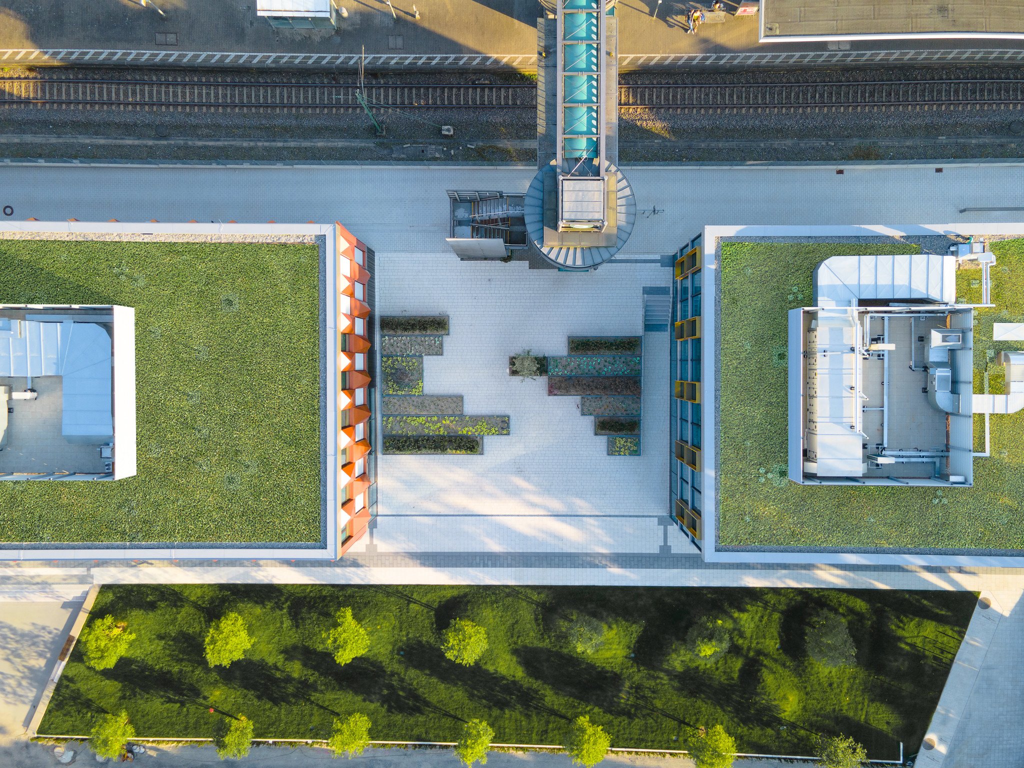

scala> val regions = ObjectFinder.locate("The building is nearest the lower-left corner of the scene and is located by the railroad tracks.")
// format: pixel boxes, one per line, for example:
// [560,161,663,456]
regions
[0,220,378,562]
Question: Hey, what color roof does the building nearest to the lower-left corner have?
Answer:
green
